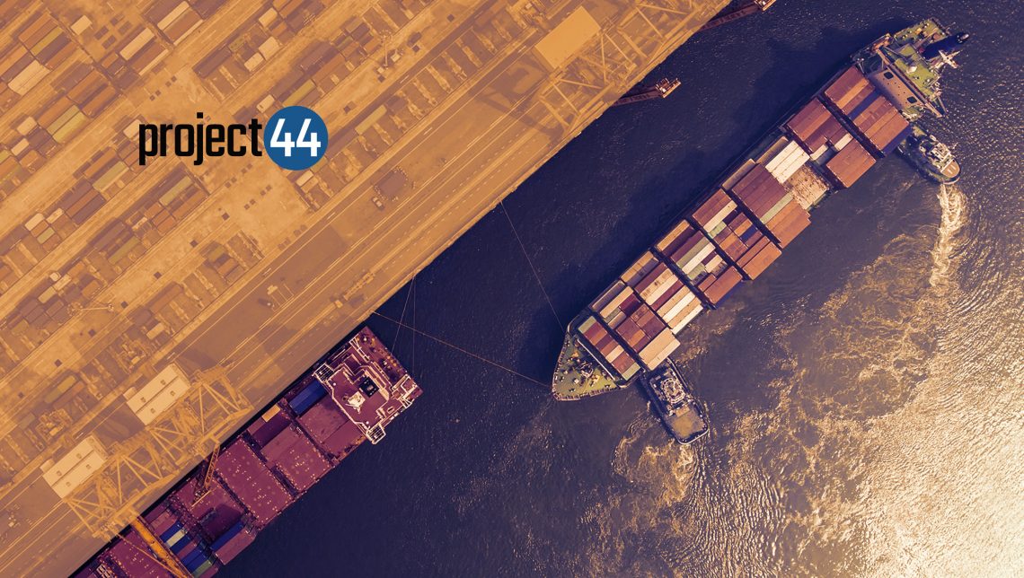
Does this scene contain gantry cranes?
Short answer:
Yes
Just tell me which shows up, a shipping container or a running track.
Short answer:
shipping container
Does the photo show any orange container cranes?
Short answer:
Yes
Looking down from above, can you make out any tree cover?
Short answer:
No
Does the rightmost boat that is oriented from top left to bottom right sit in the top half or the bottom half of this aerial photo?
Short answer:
top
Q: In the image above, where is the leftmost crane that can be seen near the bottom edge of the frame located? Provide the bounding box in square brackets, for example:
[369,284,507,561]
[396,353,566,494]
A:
[33,421,190,578]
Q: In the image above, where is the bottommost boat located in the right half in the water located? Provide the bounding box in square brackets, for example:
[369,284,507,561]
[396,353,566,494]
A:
[644,361,713,449]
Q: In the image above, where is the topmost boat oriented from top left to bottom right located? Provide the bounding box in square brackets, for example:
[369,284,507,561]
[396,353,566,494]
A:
[888,126,961,192]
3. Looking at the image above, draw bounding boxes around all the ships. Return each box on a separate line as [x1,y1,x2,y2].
[77,326,424,578]
[545,15,982,399]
